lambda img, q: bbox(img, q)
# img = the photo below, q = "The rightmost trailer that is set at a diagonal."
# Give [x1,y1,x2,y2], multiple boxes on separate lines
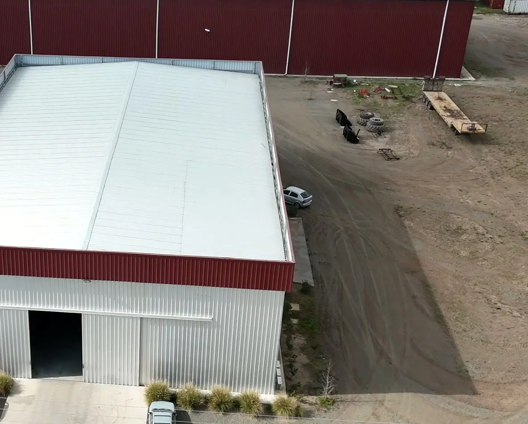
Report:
[423,72,492,135]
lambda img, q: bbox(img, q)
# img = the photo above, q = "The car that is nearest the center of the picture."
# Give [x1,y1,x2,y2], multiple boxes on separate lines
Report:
[283,184,313,207]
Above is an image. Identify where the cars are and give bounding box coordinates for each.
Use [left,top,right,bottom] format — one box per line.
[283,184,313,207]
[147,403,179,424]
